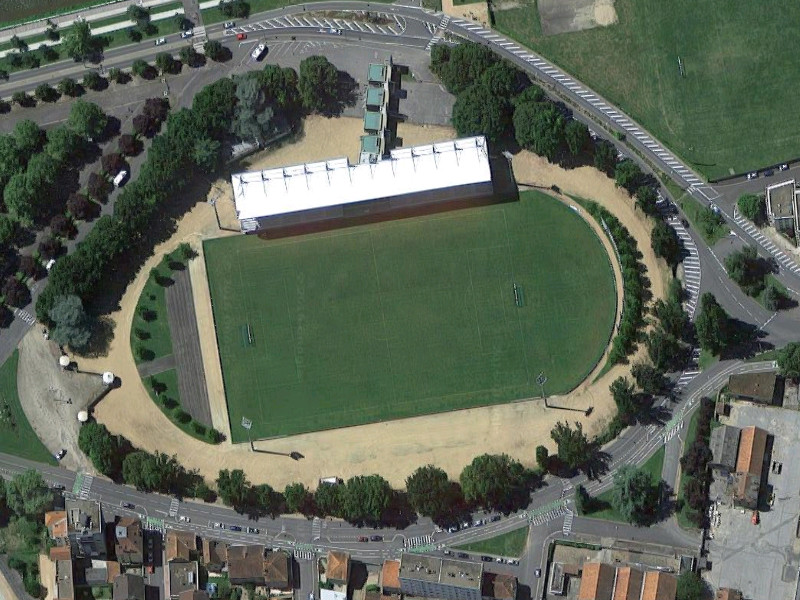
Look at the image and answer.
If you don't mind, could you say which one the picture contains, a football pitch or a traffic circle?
football pitch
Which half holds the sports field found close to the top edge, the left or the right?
right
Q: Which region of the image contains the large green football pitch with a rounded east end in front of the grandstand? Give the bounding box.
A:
[203,189,616,443]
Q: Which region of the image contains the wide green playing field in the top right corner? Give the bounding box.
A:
[491,0,800,182]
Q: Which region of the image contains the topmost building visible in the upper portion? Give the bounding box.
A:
[369,64,387,88]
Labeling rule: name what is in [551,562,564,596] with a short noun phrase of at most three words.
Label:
building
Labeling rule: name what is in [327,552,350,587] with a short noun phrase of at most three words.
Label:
house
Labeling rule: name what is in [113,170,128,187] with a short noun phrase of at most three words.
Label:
vehicle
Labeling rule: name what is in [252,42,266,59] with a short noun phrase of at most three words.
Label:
camper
